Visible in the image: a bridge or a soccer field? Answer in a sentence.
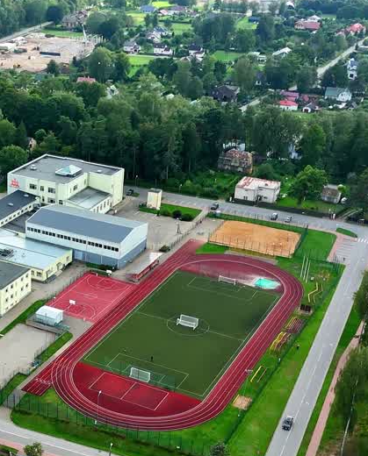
The image shows a soccer field.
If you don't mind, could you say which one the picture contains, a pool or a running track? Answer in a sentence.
There is a running track in the scene.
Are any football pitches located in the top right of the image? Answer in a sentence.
No, no football pitch is visible in the top right of the image.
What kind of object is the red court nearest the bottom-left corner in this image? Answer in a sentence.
Specifically, the red court nearest the bottom-left corner is a basketball court.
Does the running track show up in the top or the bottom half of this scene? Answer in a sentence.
You can find the running track in the bottom half.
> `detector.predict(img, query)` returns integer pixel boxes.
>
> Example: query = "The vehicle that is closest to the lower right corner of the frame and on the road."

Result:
[281,415,294,429]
